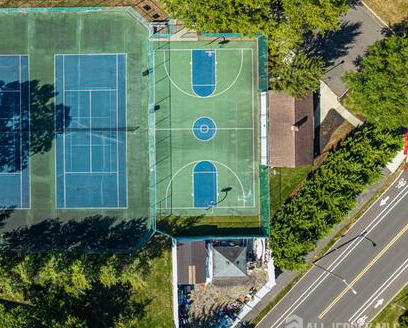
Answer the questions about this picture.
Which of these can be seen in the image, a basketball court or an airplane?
basketball court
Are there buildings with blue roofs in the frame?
No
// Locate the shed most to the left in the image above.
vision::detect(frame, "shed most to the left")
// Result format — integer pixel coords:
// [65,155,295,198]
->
[174,239,207,284]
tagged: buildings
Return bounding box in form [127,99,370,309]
[263,89,314,167]
[212,245,247,284]
[174,239,207,284]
